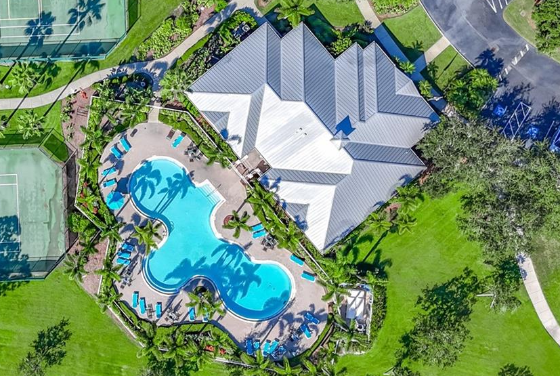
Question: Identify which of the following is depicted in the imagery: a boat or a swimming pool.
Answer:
swimming pool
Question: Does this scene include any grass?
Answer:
Yes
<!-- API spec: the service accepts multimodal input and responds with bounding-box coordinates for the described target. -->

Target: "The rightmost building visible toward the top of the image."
[189,22,444,252]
